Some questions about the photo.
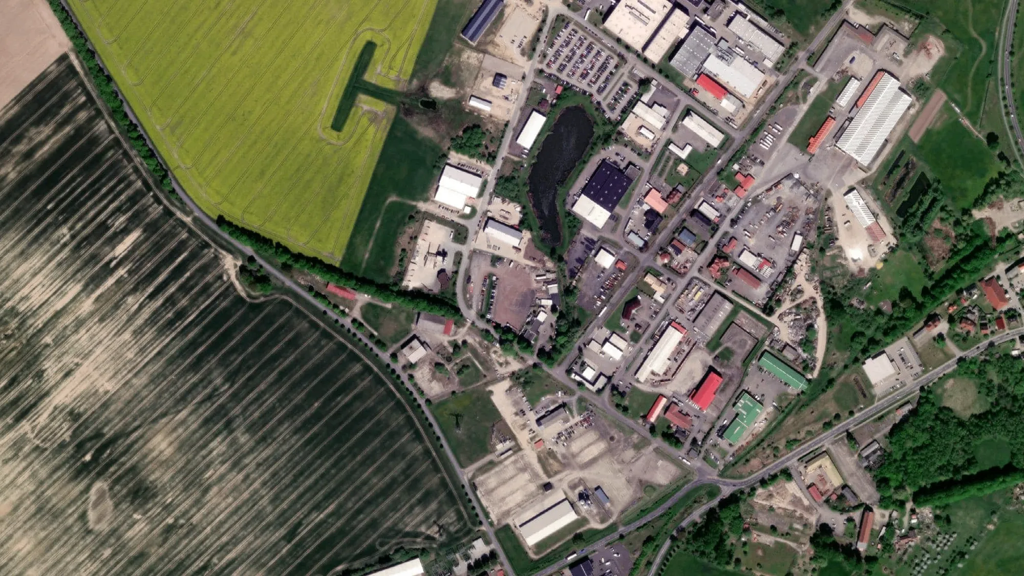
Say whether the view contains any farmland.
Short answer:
Yes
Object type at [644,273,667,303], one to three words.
building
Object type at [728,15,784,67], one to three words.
building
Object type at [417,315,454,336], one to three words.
barn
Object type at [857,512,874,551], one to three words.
barn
